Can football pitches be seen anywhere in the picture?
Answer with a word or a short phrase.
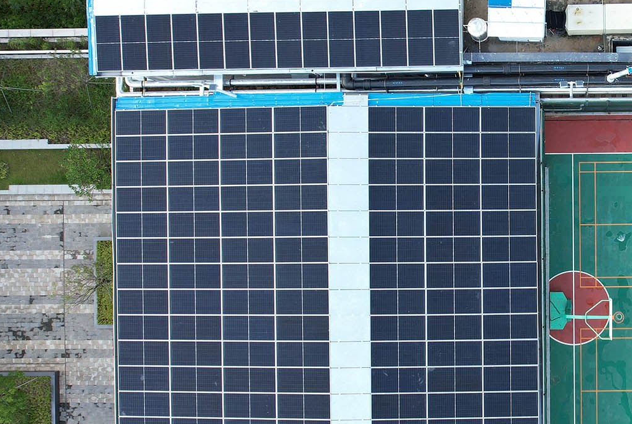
No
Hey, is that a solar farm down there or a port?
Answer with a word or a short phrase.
solar farm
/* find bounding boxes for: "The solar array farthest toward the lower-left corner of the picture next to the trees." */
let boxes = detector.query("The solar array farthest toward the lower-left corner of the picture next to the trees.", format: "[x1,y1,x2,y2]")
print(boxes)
[116,107,331,424]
